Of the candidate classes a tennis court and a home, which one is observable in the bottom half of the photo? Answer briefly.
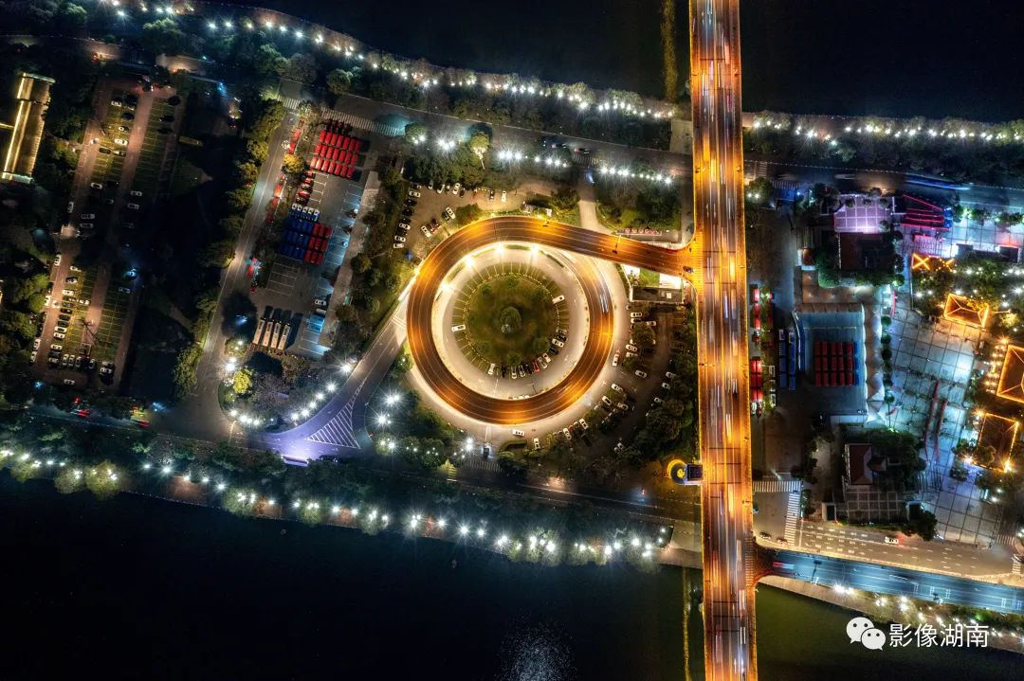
home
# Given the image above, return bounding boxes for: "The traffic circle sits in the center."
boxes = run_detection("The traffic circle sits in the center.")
[406,225,630,441]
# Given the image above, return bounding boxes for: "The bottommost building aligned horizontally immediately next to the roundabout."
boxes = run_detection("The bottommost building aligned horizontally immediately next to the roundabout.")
[628,286,684,303]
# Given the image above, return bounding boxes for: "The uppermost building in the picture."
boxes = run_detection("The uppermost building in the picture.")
[1,76,62,185]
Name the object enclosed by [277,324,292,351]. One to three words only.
vehicle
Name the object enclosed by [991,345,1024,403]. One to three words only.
building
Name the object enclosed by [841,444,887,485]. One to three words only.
house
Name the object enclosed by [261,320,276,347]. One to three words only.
vehicle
